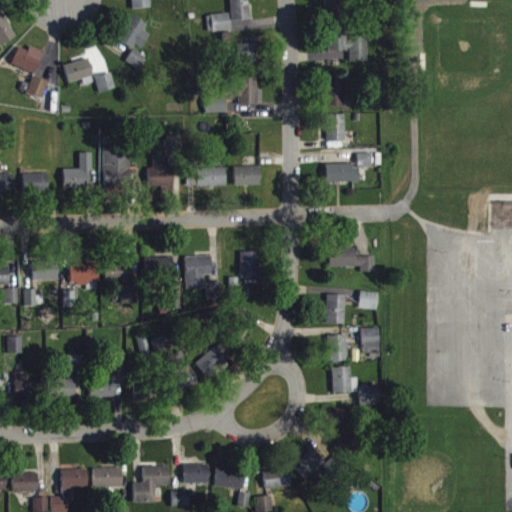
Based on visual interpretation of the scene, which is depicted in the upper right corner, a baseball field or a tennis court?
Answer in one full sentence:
Visible in the upper right corner is a baseball field.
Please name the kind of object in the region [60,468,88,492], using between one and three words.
house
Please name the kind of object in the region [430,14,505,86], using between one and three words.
baseball field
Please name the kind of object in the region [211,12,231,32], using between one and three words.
building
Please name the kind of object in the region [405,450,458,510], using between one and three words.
baseball field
